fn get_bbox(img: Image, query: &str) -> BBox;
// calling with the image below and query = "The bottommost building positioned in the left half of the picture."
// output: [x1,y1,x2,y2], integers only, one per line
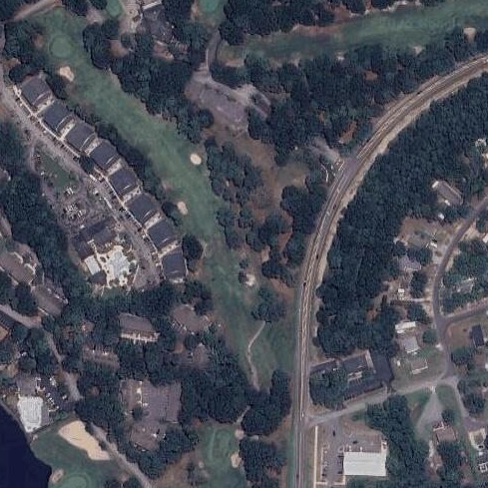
[129,424,161,451]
